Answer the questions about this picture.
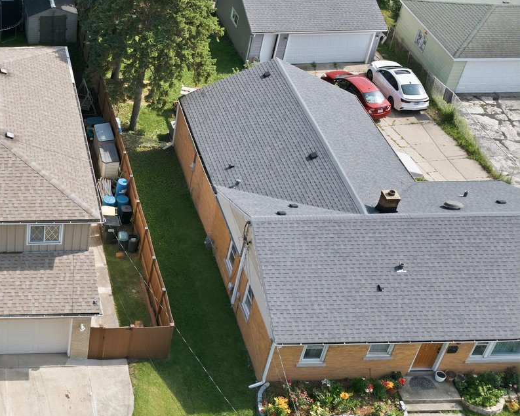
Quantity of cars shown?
2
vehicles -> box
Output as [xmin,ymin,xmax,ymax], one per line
[365,57,429,110]
[329,67,402,122]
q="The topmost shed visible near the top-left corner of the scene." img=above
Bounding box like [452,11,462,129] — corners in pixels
[27,0,81,43]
